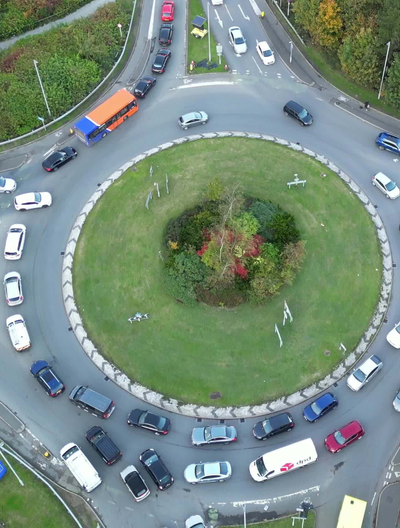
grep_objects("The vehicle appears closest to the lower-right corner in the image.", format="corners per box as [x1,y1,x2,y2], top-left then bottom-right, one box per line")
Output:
[340,496,372,528]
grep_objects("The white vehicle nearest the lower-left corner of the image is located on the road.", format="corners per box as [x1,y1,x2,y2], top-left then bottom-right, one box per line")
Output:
[59,437,104,499]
